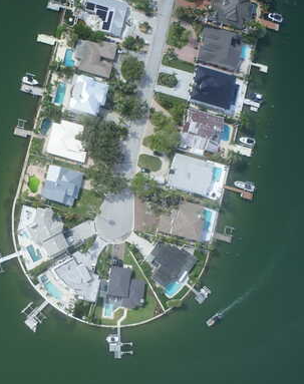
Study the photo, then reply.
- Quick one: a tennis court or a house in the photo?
house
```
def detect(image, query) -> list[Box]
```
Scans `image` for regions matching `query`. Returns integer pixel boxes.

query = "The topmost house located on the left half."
[81,0,132,39]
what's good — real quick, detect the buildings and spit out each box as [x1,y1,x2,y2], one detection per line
[188,65,239,111]
[41,165,84,207]
[54,252,99,301]
[75,39,118,78]
[81,0,132,39]
[105,267,146,308]
[67,73,110,116]
[150,241,197,285]
[47,120,88,163]
[178,107,223,152]
[165,153,214,195]
[21,208,69,257]
[196,27,242,72]
[164,200,205,242]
